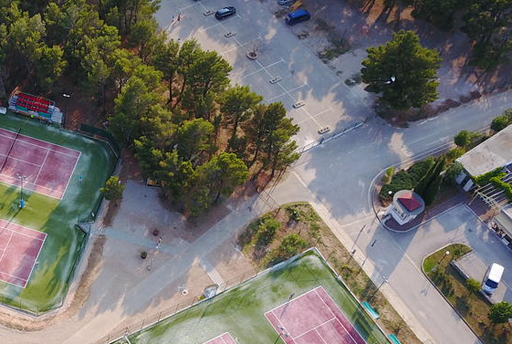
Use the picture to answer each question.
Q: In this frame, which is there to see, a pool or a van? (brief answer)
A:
van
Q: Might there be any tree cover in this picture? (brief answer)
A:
Yes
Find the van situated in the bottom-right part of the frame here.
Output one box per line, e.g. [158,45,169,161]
[482,257,511,295]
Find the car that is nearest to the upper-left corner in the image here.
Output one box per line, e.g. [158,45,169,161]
[215,2,238,17]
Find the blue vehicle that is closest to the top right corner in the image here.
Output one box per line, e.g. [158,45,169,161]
[285,6,312,22]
